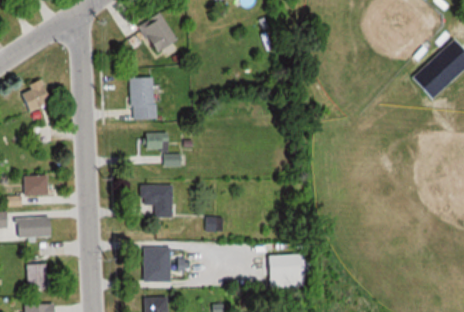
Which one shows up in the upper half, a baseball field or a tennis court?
baseball field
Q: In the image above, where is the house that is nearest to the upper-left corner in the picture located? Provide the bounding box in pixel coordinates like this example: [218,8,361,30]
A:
[24,81,50,112]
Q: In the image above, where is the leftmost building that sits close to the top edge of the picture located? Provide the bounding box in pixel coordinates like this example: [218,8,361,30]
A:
[139,15,176,52]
